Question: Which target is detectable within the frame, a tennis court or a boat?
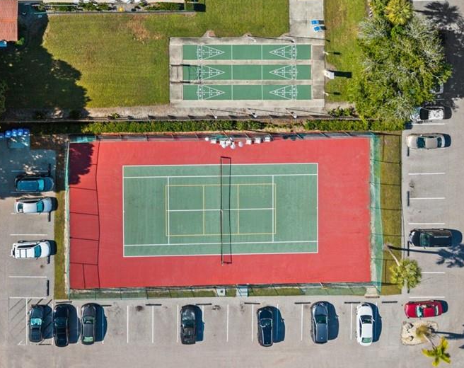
tennis court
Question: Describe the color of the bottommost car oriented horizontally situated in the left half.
white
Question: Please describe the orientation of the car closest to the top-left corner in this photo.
from left to right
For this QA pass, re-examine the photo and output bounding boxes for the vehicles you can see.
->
[10,240,51,260]
[14,174,53,193]
[409,228,452,249]
[407,132,445,149]
[14,197,54,215]
[356,301,376,345]
[410,106,450,124]
[28,302,45,345]
[403,298,442,318]
[52,302,72,346]
[256,304,276,346]
[179,303,199,345]
[80,301,97,343]
[310,299,330,344]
